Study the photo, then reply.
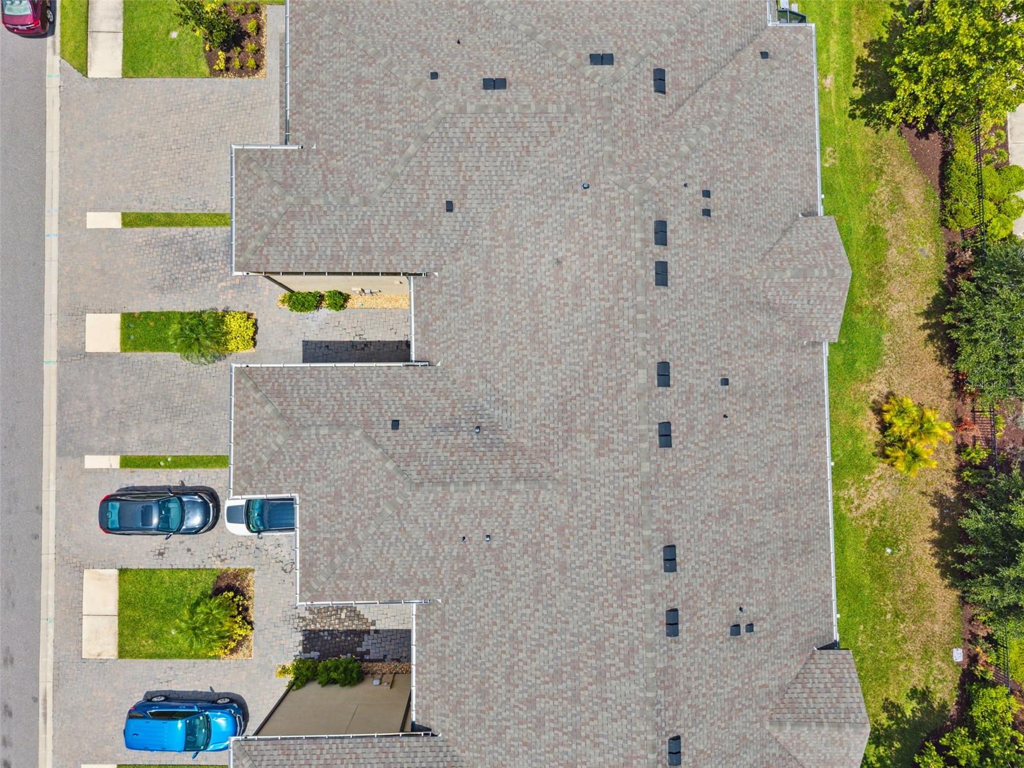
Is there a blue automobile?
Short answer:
Yes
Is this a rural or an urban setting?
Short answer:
urban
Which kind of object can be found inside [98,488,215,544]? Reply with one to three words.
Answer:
car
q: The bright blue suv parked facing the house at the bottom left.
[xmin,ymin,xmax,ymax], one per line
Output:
[125,696,244,761]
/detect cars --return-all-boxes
[98,488,215,544]
[224,496,299,546]
[125,696,244,761]
[0,0,55,33]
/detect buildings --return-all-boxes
[230,0,870,768]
